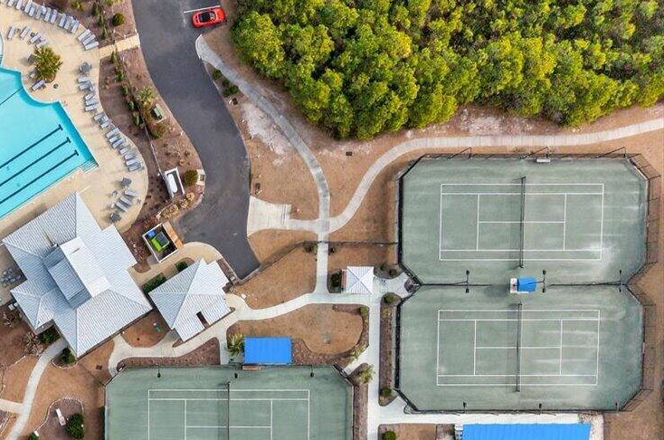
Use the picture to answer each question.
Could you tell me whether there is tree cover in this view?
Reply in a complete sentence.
Yes, there's tree cover in this view.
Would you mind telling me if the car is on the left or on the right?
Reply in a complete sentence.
The car appears in the left half of the scene.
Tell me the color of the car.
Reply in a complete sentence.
From above, the car appears red.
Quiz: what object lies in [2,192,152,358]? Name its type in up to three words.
building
